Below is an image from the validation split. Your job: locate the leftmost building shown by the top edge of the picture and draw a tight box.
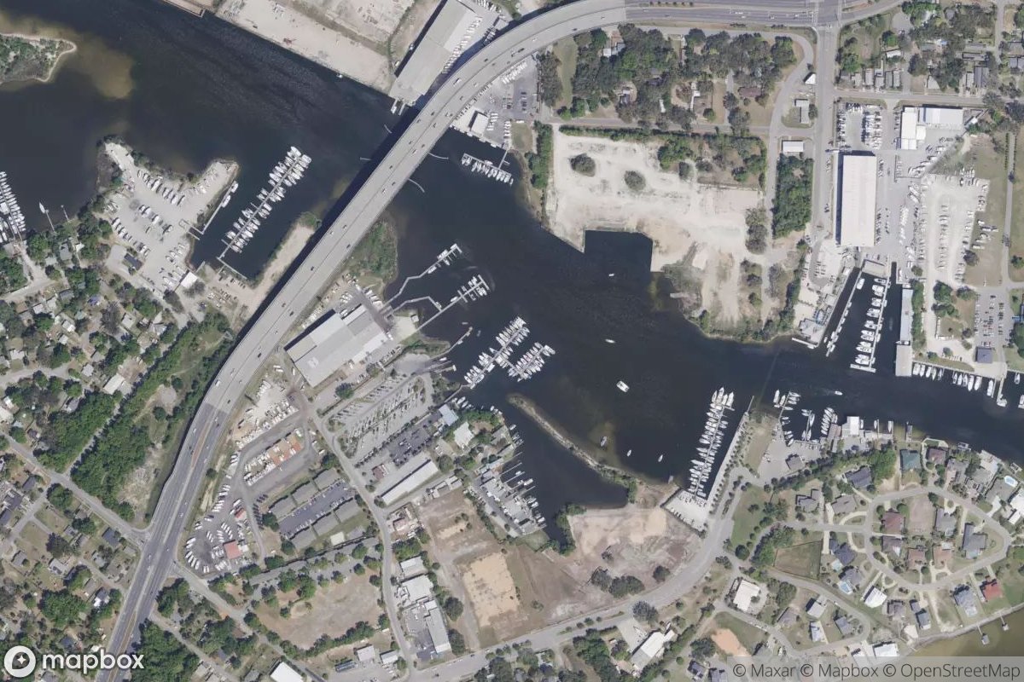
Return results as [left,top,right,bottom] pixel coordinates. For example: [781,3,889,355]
[390,0,475,104]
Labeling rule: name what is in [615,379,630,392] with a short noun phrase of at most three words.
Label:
boat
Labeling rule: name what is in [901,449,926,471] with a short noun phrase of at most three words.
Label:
house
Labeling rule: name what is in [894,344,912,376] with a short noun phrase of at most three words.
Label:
building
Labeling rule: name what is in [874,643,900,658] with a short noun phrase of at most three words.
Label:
shed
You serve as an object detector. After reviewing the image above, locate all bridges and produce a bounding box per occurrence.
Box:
[202,0,631,415]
